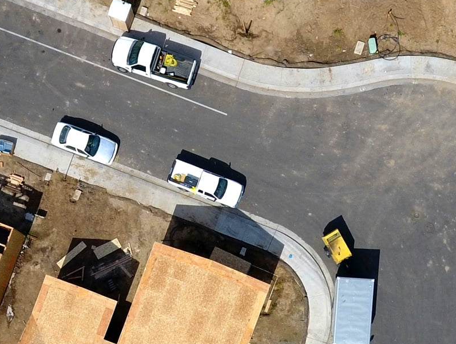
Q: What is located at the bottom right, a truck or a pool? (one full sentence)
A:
Visible at the bottom right is a truck.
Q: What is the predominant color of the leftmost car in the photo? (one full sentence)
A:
The leftmost car is white.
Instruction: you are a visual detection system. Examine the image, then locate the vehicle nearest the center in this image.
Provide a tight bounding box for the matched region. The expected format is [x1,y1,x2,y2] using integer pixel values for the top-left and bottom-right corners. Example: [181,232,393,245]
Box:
[166,157,244,210]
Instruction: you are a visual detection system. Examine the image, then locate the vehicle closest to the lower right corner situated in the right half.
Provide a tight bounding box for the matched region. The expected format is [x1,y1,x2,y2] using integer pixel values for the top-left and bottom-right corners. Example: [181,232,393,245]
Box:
[330,276,374,344]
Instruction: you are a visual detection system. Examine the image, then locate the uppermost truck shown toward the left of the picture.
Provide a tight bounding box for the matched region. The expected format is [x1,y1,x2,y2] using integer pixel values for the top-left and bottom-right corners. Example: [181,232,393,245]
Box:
[111,36,198,89]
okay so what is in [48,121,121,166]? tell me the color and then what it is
white car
